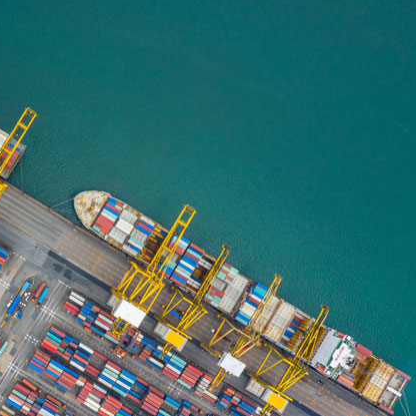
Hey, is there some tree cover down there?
No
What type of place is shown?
port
